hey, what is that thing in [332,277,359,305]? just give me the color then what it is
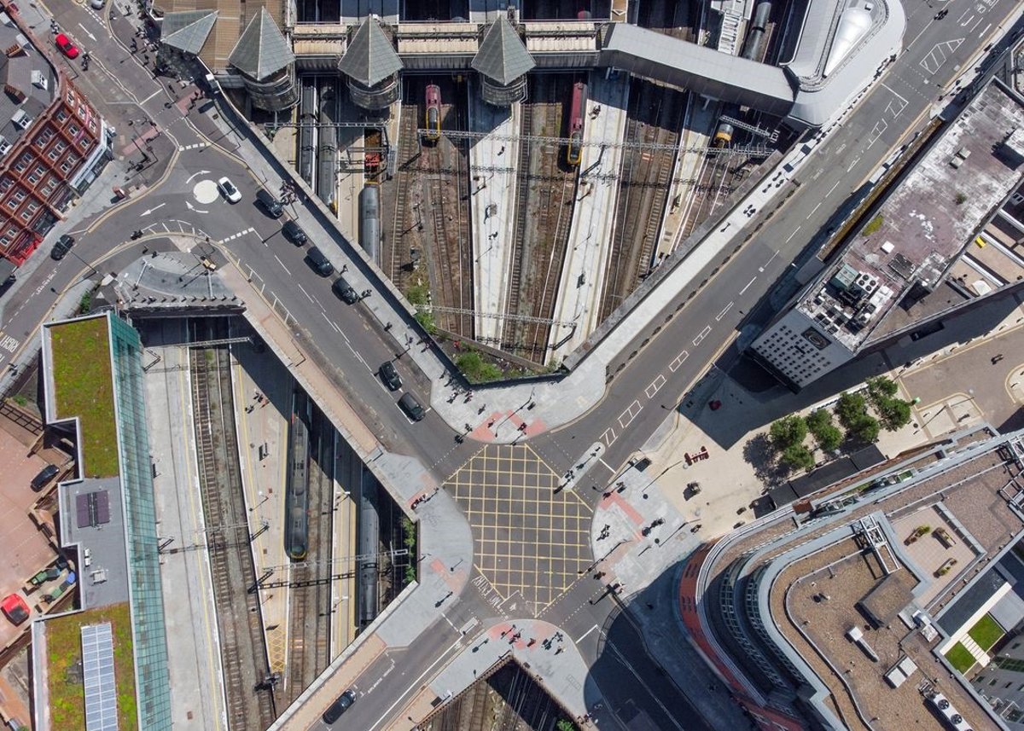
black car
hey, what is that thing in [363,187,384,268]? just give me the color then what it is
gray train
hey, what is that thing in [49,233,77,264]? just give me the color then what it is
black car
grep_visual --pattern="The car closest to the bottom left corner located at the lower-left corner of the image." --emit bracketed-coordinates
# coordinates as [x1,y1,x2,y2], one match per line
[4,594,29,625]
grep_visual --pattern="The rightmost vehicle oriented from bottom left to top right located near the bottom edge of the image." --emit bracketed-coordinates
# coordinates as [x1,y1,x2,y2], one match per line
[320,689,357,726]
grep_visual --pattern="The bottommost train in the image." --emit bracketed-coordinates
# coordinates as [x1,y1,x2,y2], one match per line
[356,502,381,643]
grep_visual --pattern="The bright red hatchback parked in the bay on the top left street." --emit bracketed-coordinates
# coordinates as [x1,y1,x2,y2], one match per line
[56,36,78,58]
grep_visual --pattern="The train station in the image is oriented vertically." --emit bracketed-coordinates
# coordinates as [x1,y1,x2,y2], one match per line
[128,311,360,731]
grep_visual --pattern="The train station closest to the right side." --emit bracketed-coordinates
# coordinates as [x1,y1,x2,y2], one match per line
[269,0,733,664]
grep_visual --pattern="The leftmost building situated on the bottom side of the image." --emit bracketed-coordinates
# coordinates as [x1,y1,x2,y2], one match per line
[30,311,175,731]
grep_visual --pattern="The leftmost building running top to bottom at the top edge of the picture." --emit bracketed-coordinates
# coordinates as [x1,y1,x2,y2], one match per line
[0,0,114,275]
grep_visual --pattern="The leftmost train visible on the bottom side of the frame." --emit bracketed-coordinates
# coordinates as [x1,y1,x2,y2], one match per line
[290,379,313,560]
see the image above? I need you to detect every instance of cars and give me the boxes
[49,233,77,264]
[93,0,106,6]
[378,361,402,394]
[258,190,282,217]
[4,594,29,625]
[28,462,64,494]
[399,392,426,424]
[280,219,306,247]
[332,277,359,305]
[306,247,333,275]
[218,177,241,203]
[56,36,78,58]
[320,689,357,726]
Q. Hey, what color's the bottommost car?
black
